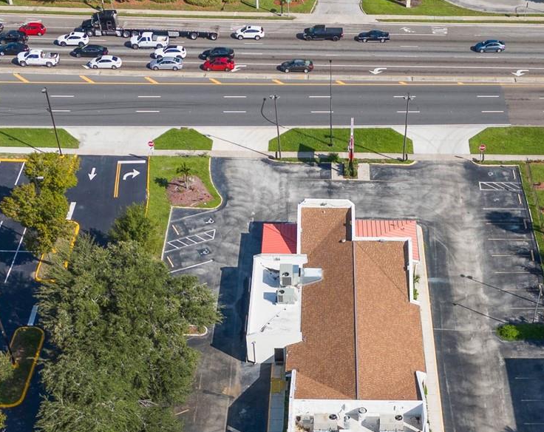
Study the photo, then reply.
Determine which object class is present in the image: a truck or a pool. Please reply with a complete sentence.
The image shows a truck.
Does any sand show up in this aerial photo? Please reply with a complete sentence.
No, there's no sand in this view.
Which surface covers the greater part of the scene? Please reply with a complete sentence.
The scene is dominated by paved ground.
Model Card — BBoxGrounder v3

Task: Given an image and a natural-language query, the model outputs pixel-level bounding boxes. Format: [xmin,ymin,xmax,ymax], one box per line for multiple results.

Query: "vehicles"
[278,58,313,73]
[200,45,233,59]
[17,50,60,67]
[232,23,264,39]
[149,55,184,69]
[472,38,506,52]
[76,2,134,36]
[58,31,89,45]
[73,43,107,57]
[0,28,29,44]
[152,43,185,58]
[88,54,122,69]
[0,40,30,54]
[129,31,170,49]
[357,29,389,42]
[202,57,236,70]
[305,23,343,40]
[20,21,49,35]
